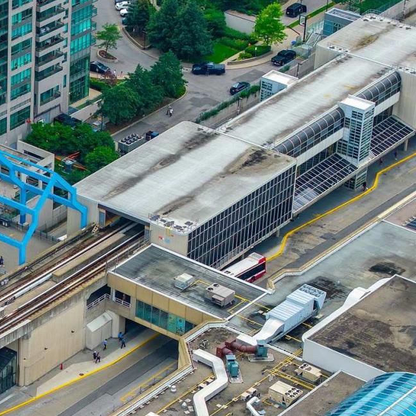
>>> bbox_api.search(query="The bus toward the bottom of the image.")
[226,245,273,282]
